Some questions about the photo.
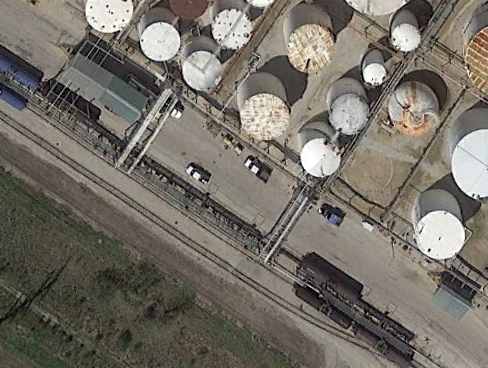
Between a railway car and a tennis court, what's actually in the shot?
railway car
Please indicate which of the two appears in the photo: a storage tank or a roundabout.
storage tank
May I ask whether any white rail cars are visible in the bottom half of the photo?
No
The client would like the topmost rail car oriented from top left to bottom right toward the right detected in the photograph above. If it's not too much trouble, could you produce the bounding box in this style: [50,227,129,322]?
[301,261,360,305]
